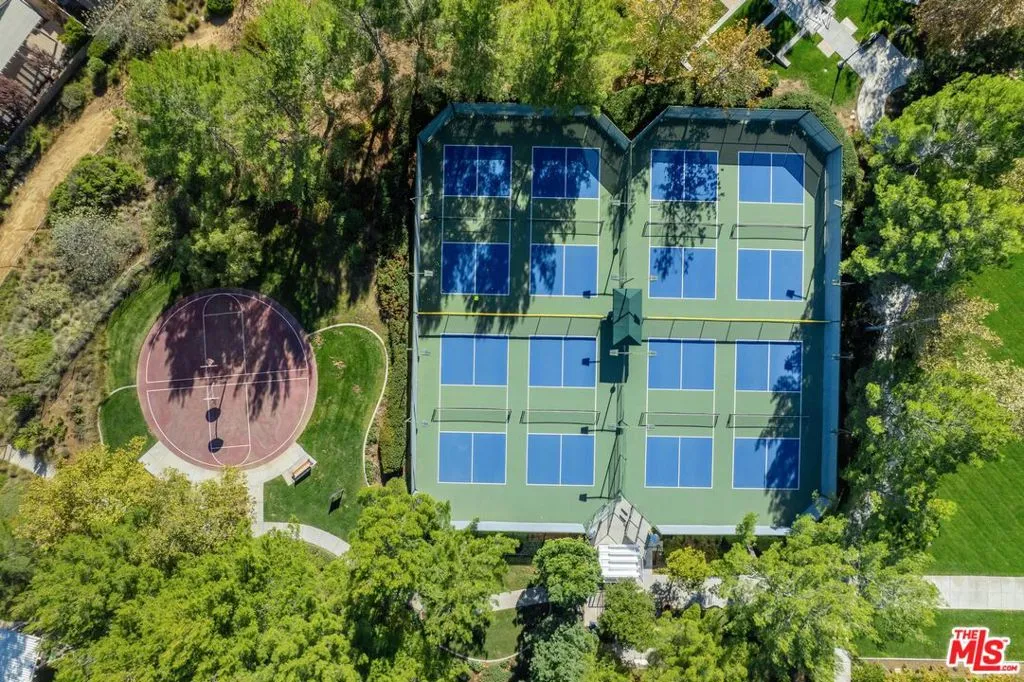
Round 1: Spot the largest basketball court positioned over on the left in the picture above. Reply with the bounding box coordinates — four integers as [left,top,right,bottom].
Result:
[137,288,318,470]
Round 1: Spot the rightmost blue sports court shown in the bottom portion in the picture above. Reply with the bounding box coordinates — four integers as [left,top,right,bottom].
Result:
[732,339,803,490]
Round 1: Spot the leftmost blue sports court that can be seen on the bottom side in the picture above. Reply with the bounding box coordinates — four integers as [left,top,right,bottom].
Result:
[437,334,509,485]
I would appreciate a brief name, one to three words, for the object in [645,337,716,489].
sports court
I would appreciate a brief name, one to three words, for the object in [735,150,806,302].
sports court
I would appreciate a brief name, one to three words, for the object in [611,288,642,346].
building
